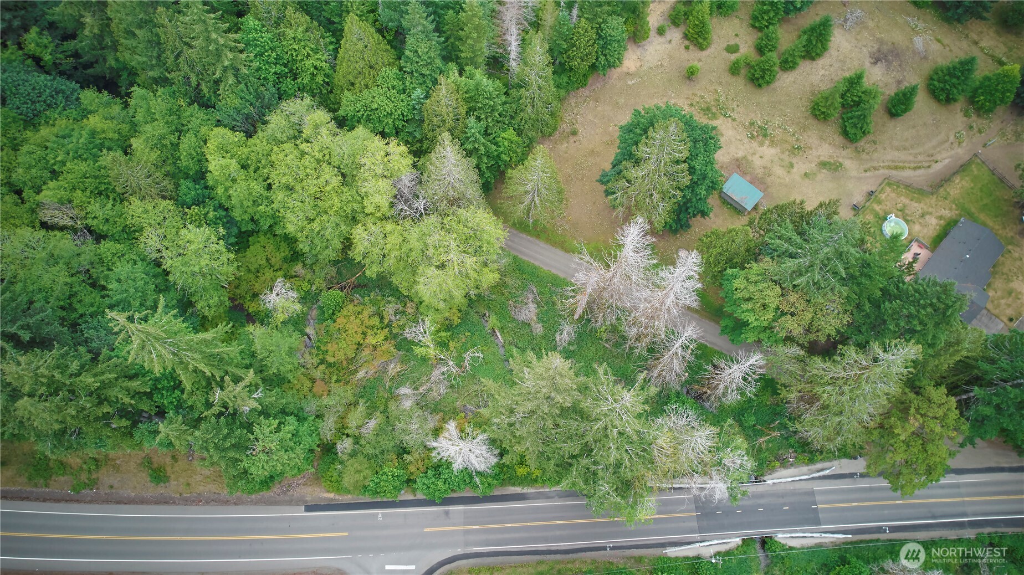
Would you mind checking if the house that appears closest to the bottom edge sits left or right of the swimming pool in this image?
to the right of it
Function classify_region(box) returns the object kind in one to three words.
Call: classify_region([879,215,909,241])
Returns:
swimming pool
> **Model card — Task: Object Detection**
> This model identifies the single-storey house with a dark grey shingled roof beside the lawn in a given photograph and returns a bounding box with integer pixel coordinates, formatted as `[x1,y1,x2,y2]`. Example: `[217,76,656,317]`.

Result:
[915,217,1006,324]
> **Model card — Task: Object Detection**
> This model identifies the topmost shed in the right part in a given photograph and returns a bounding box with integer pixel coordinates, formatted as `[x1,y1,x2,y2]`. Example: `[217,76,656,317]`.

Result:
[721,173,763,214]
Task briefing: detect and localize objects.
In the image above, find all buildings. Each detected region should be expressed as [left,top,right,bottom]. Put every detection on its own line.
[915,217,1006,324]
[721,173,763,214]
